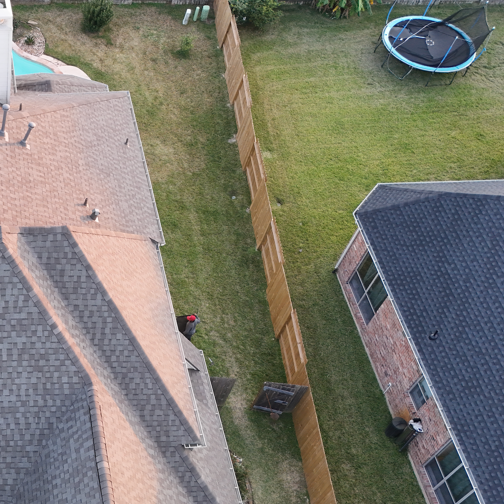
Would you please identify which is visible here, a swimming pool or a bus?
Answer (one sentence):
The image shows a swimming pool.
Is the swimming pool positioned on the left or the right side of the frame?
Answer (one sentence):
You can find the swimming pool on the left side of the picture.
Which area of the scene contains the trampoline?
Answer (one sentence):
The trampoline is located in the top right region of the scene.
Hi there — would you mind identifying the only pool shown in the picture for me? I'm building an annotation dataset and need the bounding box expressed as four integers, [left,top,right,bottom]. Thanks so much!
[13,39,64,75]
